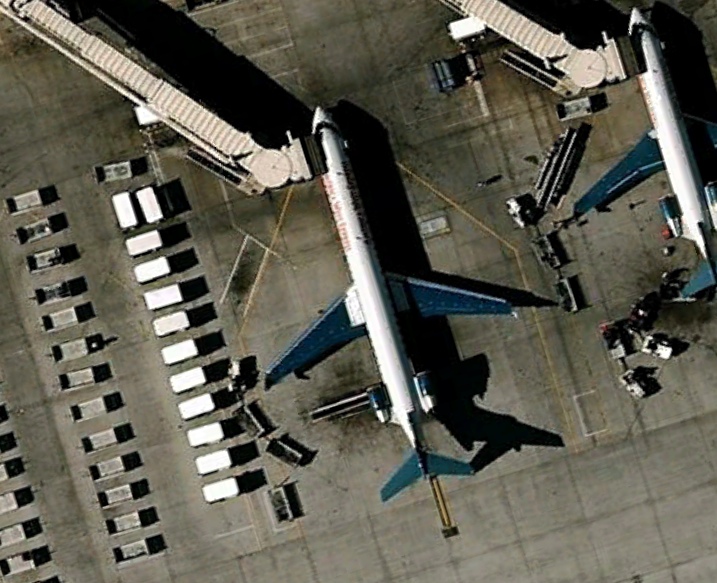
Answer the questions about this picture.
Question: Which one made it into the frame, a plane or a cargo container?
plane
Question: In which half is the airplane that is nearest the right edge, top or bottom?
top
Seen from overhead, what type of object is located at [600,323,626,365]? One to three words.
truck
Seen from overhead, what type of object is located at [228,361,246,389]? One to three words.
work vehicle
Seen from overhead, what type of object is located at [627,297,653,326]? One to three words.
work vehicle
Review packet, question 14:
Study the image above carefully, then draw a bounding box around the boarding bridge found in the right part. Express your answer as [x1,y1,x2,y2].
[453,0,645,96]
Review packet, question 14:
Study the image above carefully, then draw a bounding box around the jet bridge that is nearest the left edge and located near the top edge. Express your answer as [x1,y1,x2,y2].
[0,0,326,195]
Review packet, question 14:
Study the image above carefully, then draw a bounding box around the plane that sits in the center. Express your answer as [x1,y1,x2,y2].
[263,107,515,502]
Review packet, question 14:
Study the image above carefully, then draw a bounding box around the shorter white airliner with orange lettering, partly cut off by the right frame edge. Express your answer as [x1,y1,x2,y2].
[572,8,717,303]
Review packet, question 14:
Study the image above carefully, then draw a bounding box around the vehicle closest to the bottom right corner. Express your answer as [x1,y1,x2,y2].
[621,368,650,395]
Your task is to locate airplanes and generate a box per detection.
[263,107,515,502]
[572,8,717,303]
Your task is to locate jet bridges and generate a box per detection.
[0,0,326,195]
[453,0,645,96]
